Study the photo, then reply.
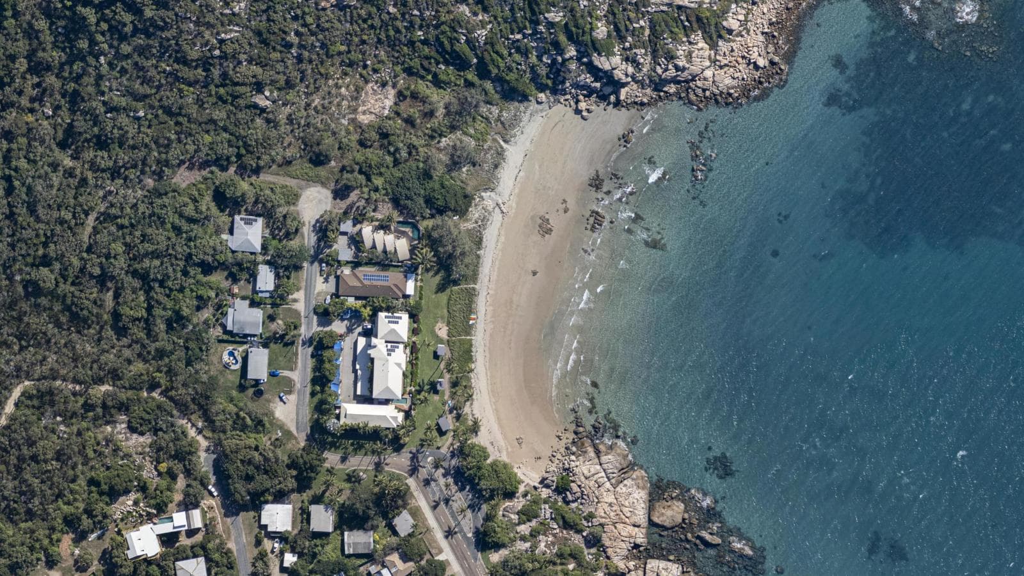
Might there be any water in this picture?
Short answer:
Yes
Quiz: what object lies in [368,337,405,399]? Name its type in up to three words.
building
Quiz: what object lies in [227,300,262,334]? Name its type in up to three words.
house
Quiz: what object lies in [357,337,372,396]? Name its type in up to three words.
building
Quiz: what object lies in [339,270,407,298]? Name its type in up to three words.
house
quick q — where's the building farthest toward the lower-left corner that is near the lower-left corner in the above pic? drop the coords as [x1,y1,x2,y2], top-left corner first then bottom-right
[126,524,160,557]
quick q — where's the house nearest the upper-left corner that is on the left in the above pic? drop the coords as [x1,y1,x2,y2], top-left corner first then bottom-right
[228,215,263,252]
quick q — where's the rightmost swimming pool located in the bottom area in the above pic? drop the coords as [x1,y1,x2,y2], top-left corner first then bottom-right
[391,397,409,410]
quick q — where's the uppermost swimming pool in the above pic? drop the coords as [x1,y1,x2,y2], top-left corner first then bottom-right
[394,221,421,240]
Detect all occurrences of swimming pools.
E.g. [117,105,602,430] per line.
[391,397,409,410]
[394,221,421,240]
[156,516,173,525]
[222,347,242,369]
